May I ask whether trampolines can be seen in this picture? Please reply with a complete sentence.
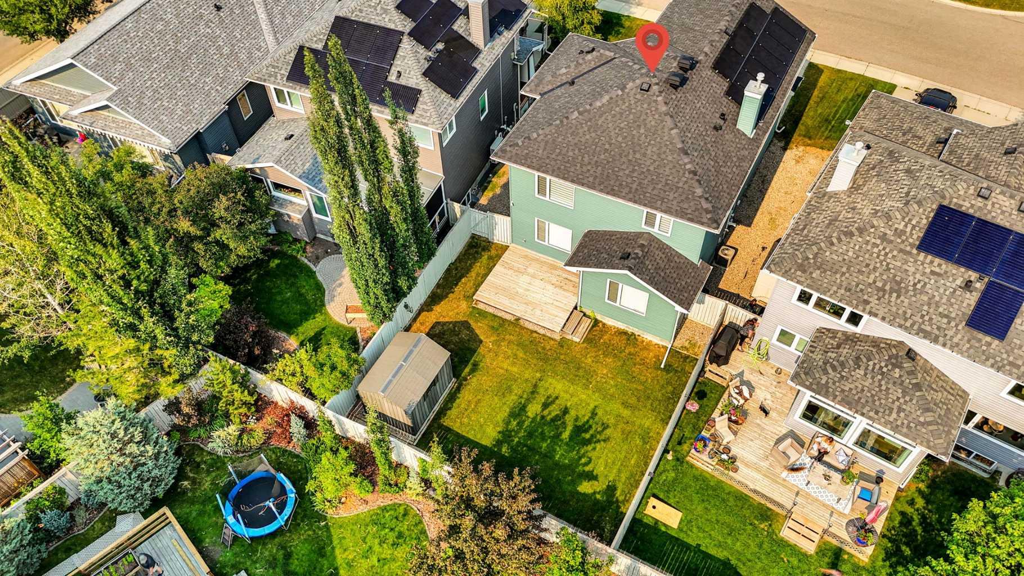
Yes, the picture does show a trampoline.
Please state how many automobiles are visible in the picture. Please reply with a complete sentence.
I count just 1 automobile.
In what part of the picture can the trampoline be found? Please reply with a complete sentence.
The trampoline is in the bottom left part of the image.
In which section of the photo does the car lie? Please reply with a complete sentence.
You can find the car in the top right area of the picture.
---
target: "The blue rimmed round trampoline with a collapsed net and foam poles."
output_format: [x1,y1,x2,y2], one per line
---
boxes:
[216,453,304,546]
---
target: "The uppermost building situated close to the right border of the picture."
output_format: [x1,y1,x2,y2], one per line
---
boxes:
[750,91,1024,501]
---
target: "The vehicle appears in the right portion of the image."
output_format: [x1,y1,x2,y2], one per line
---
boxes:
[920,88,963,118]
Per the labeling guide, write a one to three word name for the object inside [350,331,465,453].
shed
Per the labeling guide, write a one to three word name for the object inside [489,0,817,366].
building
